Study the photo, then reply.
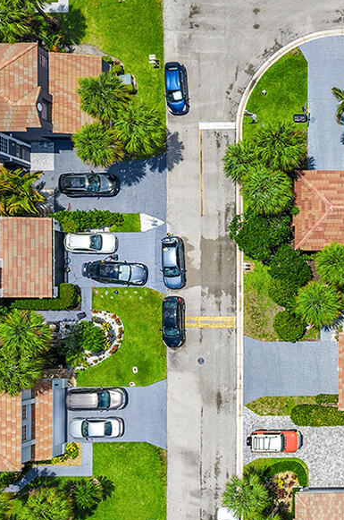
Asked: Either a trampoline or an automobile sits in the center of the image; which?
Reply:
automobile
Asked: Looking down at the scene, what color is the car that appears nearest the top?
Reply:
blue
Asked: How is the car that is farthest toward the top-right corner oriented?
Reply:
up and down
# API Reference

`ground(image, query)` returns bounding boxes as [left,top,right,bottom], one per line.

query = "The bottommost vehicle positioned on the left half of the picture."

[71,414,127,440]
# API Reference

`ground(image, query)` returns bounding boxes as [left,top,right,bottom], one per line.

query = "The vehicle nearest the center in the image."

[160,236,188,289]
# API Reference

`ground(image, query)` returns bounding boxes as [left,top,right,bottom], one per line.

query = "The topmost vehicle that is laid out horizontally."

[61,171,119,197]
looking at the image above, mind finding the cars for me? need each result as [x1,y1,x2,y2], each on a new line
[71,414,127,440]
[160,296,188,347]
[250,429,305,455]
[65,231,121,256]
[160,236,188,289]
[69,385,128,412]
[164,63,190,116]
[61,171,119,197]
[88,260,149,286]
